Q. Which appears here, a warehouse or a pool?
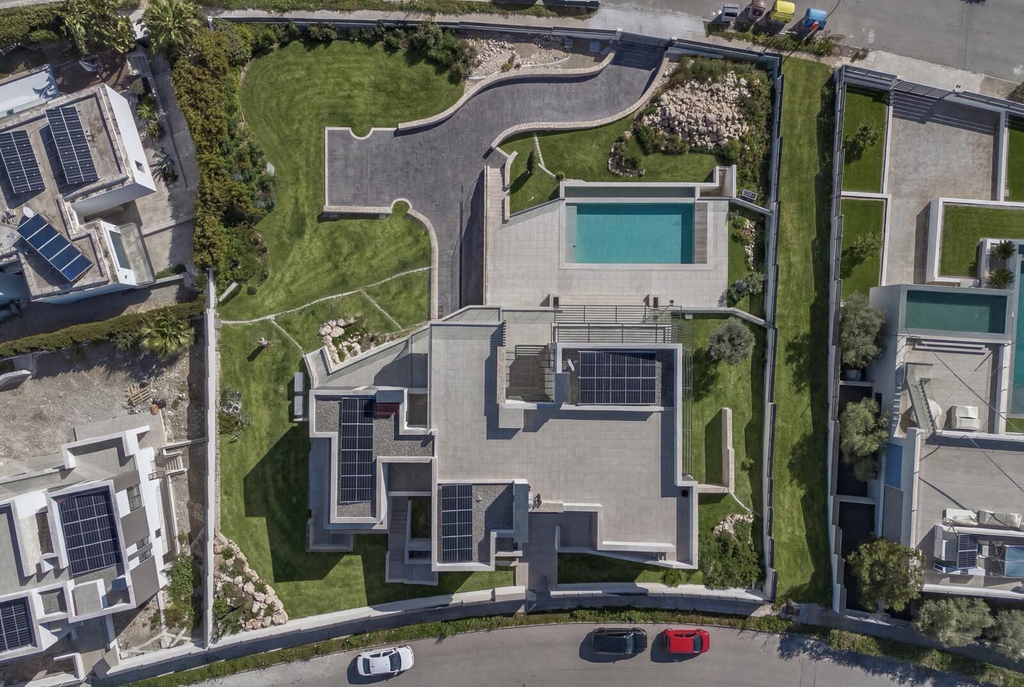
pool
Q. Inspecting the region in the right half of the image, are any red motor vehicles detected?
Yes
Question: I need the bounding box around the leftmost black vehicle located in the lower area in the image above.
[590,624,647,655]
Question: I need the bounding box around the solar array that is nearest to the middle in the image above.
[577,351,657,405]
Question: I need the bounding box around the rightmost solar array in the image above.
[999,541,1024,578]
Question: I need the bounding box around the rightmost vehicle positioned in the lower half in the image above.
[662,625,709,654]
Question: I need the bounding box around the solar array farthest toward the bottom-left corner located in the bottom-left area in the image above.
[0,598,35,648]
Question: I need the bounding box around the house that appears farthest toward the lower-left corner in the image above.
[0,424,178,656]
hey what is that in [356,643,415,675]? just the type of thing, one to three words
car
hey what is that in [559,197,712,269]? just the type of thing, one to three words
swimming pool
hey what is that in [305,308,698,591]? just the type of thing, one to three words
house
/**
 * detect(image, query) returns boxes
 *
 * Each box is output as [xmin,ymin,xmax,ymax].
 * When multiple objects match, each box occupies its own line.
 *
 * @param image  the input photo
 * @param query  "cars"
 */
[662,625,709,654]
[356,643,415,675]
[590,624,647,655]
